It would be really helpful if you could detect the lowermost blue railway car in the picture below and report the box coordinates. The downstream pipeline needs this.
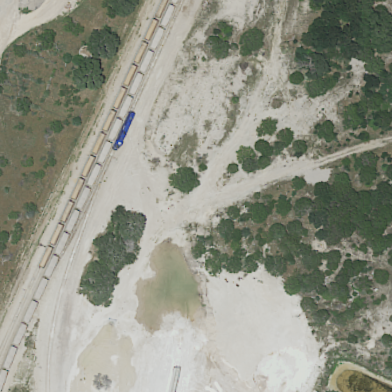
[113,131,126,150]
